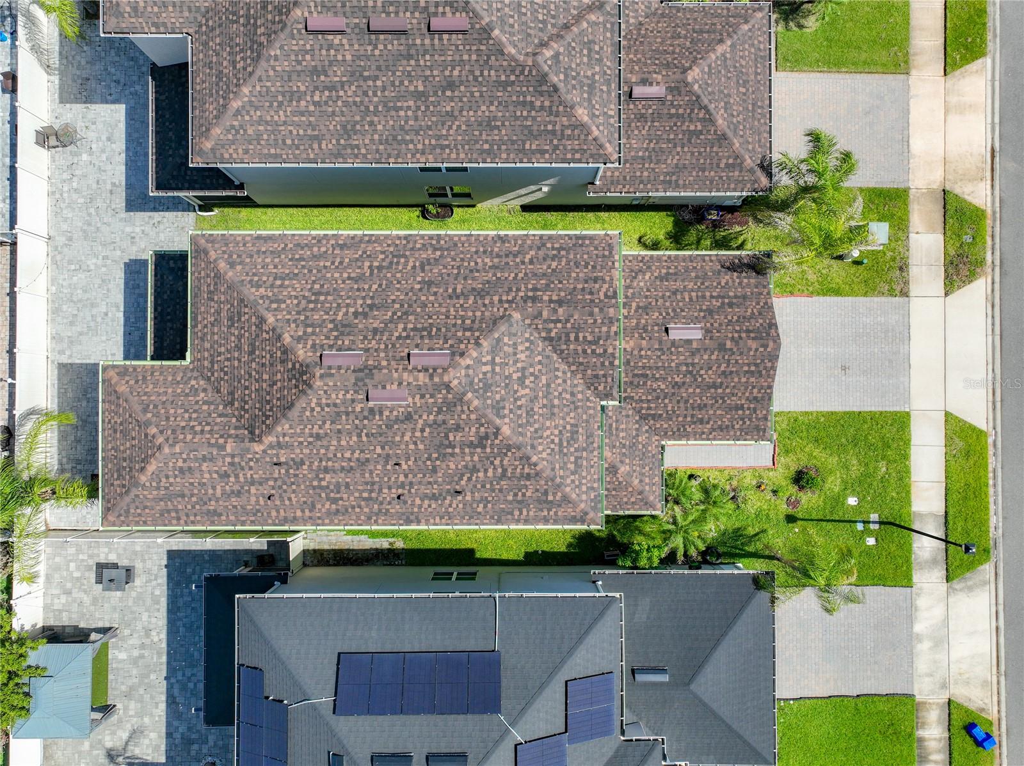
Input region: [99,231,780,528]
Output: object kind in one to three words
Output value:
house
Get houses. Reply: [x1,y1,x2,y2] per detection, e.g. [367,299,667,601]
[100,0,772,214]
[99,231,780,528]
[192,550,776,766]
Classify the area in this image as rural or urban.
urban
